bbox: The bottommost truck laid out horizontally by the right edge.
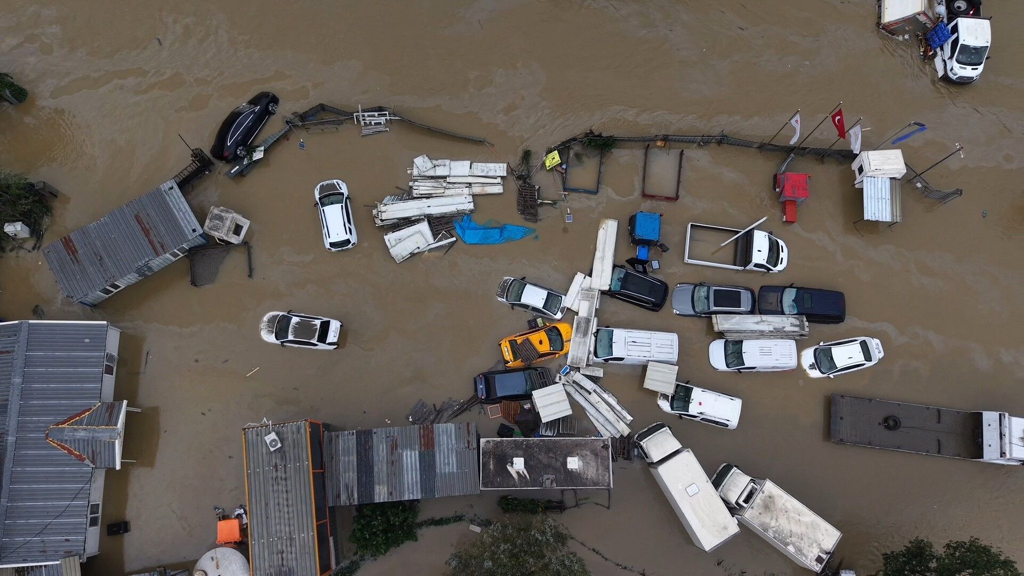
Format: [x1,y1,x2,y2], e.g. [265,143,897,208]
[829,393,1024,463]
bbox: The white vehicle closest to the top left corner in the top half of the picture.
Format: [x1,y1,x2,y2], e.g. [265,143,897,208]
[313,179,359,255]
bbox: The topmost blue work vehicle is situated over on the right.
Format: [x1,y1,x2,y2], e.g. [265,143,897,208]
[626,214,662,263]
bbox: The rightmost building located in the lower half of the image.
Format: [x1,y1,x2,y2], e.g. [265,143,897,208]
[480,437,614,490]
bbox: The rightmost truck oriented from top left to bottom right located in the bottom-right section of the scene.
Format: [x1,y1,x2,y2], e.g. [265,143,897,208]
[706,456,841,573]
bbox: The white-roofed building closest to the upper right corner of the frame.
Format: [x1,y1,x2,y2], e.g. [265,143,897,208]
[855,149,907,181]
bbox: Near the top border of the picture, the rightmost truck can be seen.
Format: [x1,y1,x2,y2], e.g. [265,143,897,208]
[943,0,997,91]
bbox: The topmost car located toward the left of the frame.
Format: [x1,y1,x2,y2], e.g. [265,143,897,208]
[208,93,271,161]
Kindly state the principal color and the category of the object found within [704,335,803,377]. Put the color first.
white van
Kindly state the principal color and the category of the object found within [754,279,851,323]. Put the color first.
black car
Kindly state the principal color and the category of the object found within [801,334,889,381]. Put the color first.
white car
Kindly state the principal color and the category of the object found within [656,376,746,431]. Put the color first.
white van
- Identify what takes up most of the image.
water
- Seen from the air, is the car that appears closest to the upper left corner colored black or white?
black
